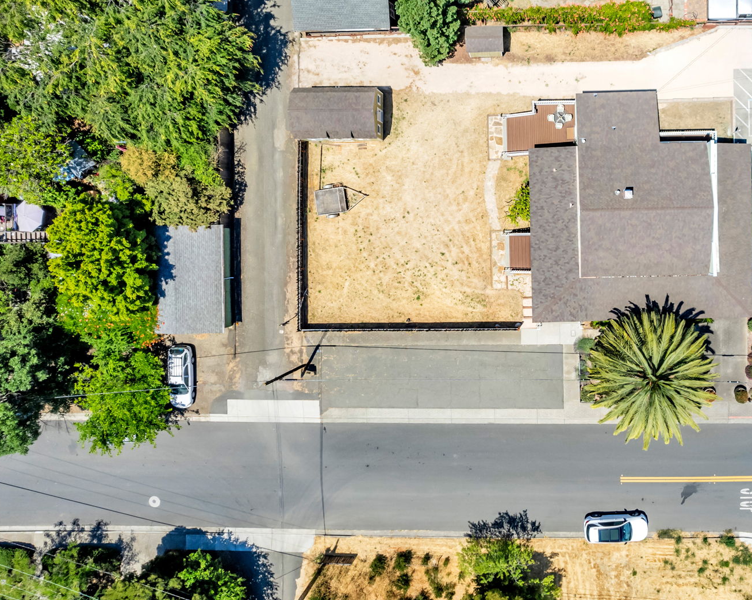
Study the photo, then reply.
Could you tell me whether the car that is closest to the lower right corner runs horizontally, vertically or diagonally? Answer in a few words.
horizontally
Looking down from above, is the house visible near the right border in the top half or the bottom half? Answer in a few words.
top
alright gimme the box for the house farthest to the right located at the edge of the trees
[528,91,752,324]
